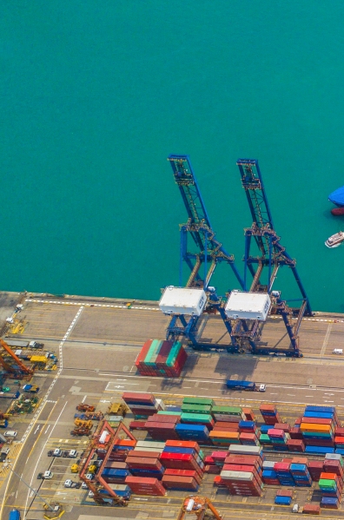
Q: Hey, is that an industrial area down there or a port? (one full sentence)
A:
The area seen from above is a port.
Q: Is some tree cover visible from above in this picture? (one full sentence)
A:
No, there is no tree cover in the image.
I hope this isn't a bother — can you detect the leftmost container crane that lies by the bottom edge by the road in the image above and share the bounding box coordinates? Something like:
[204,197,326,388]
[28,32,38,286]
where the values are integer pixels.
[76,420,144,506]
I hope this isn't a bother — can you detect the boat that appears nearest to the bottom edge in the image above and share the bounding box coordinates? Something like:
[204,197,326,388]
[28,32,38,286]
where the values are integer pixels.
[326,231,344,245]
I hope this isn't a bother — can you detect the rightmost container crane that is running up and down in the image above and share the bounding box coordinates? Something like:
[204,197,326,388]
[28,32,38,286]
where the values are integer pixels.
[226,162,312,361]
